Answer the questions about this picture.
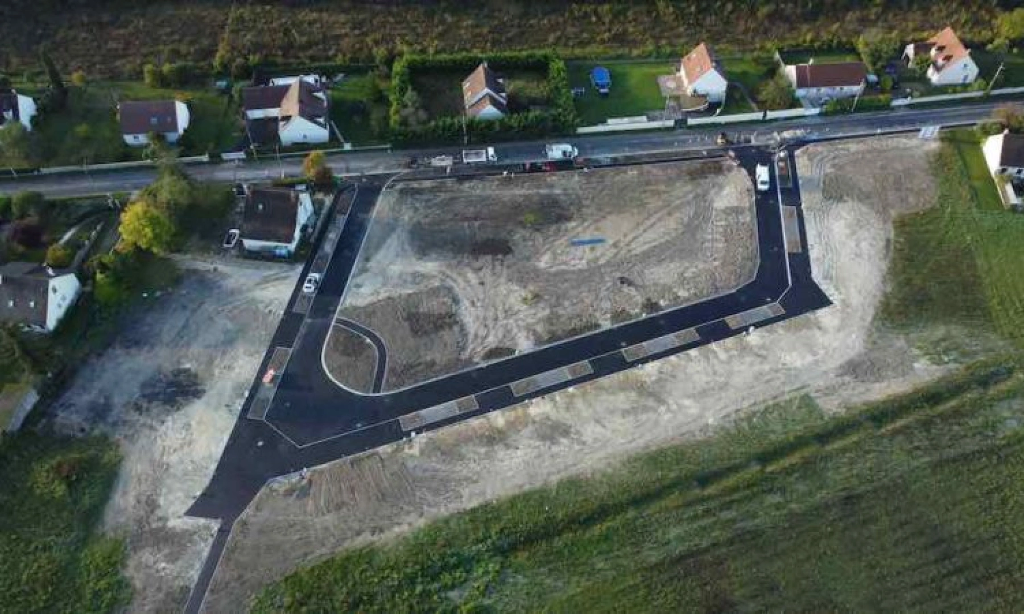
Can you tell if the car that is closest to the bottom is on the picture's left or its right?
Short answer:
left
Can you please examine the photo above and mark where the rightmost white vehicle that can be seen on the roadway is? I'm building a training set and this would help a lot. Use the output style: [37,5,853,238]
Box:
[757,165,772,189]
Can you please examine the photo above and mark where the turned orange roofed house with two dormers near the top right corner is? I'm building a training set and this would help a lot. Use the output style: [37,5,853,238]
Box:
[902,37,984,89]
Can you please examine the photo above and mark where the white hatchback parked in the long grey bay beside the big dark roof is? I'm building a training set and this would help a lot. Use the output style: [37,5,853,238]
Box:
[301,269,321,291]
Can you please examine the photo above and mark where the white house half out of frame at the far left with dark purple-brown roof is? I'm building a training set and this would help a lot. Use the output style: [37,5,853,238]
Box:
[0,87,42,138]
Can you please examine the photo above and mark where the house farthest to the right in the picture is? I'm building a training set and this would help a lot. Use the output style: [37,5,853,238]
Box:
[977,127,1024,204]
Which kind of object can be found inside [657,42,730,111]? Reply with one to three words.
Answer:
house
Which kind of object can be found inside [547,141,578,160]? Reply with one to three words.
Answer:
vehicle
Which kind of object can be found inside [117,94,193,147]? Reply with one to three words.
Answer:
house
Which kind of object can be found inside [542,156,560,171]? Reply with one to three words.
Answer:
work vehicle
